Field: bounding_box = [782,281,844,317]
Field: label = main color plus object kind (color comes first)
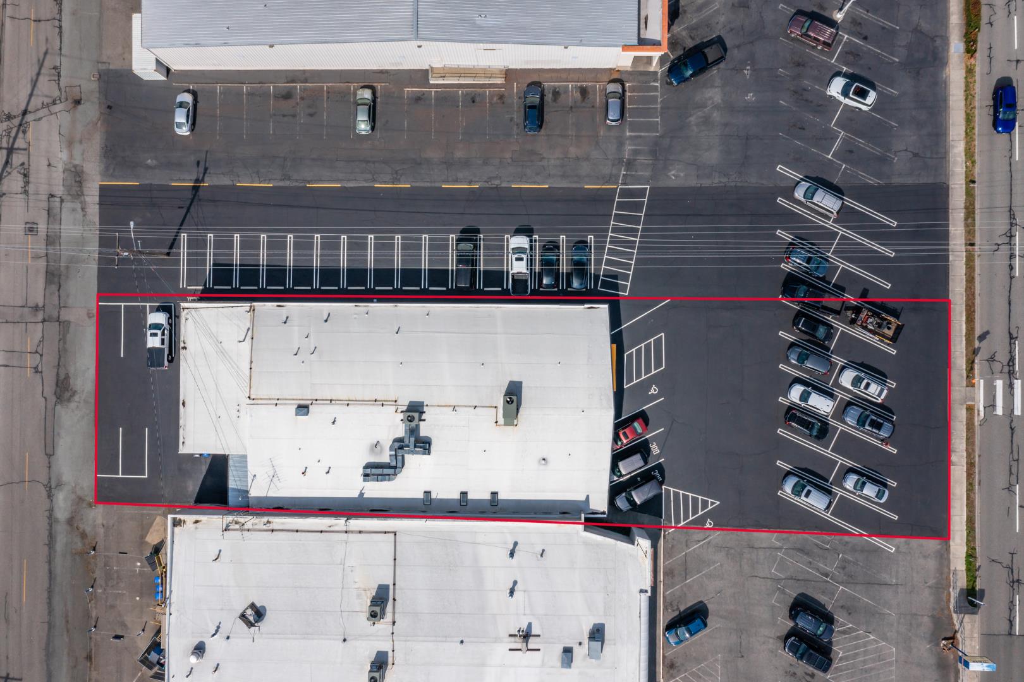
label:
black truck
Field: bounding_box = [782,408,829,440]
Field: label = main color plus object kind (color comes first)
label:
black car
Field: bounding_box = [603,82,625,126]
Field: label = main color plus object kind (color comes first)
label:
gray car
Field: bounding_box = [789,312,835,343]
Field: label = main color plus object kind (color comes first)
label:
black car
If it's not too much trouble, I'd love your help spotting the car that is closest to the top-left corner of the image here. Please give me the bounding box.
[172,92,197,137]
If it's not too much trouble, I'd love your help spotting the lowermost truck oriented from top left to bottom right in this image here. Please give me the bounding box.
[781,634,837,678]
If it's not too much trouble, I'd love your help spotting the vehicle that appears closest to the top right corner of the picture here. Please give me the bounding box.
[990,85,1019,133]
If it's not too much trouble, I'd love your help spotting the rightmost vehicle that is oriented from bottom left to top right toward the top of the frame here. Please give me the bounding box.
[668,38,726,84]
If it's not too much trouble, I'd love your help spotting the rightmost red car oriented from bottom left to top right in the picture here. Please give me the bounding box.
[612,419,651,451]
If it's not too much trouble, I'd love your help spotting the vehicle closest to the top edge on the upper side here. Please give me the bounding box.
[787,14,841,48]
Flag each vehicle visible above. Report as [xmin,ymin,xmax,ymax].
[455,234,479,290]
[146,310,174,370]
[787,384,836,417]
[786,606,835,642]
[781,634,837,678]
[603,82,625,126]
[841,471,890,504]
[789,312,835,343]
[782,474,834,512]
[838,368,890,402]
[793,182,845,216]
[172,92,197,137]
[610,451,652,483]
[990,85,1019,133]
[569,242,591,290]
[668,38,726,84]
[826,76,878,110]
[612,419,651,451]
[785,344,834,377]
[782,408,829,440]
[782,243,827,275]
[782,281,844,317]
[508,235,532,297]
[539,242,561,290]
[521,83,544,134]
[664,611,710,643]
[787,14,841,48]
[613,477,665,514]
[842,407,896,441]
[353,88,375,136]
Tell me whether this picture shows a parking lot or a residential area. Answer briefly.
parking lot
